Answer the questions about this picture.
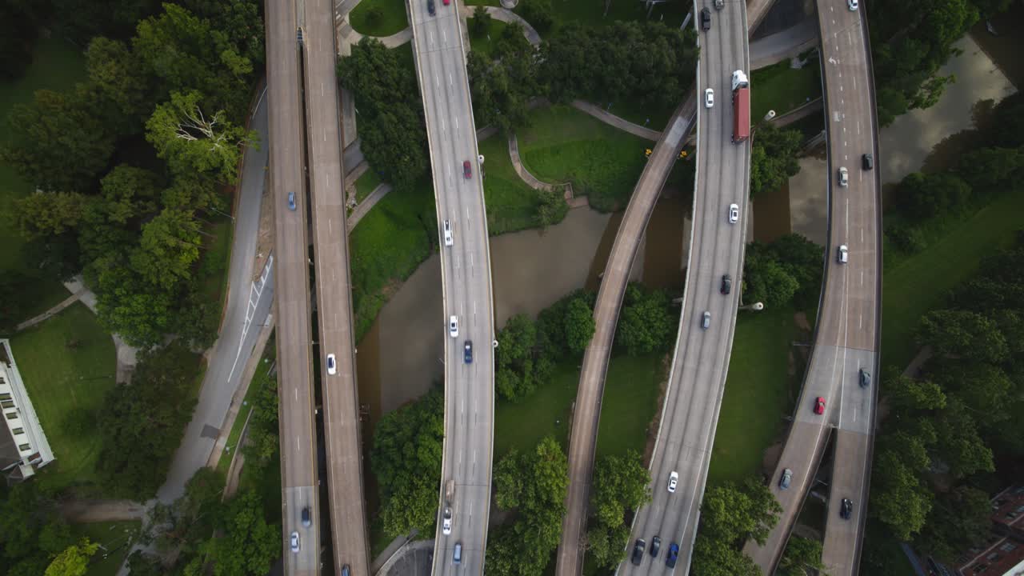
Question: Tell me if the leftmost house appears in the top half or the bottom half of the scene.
bottom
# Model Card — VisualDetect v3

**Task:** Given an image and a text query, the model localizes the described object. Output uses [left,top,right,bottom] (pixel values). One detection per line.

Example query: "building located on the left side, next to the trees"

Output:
[0,335,62,474]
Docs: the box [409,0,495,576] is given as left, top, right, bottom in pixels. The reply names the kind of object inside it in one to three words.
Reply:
bridge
